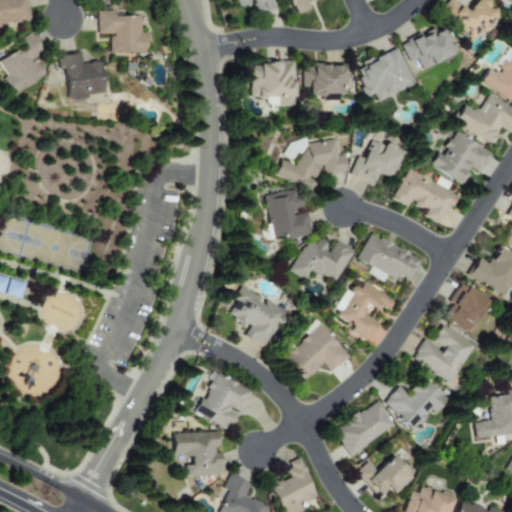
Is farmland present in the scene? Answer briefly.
No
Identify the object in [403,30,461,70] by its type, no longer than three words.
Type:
house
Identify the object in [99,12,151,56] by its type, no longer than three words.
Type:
house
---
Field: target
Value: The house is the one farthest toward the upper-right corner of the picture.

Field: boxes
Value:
[448,0,501,36]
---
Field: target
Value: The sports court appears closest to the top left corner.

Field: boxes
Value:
[0,212,92,273]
